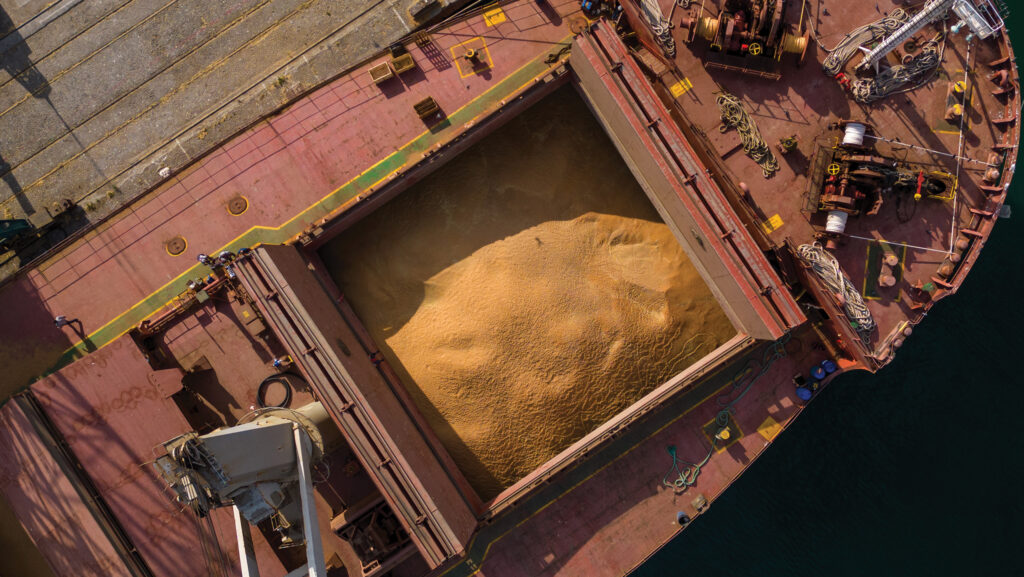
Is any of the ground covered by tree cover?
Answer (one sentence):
No, the picture contains no tree cover.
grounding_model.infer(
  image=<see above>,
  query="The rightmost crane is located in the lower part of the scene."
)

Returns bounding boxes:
[140,396,345,577]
